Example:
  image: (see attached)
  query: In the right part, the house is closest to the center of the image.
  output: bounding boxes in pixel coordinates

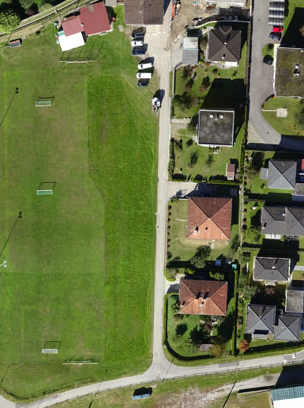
[188,197,232,241]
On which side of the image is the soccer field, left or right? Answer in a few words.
left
